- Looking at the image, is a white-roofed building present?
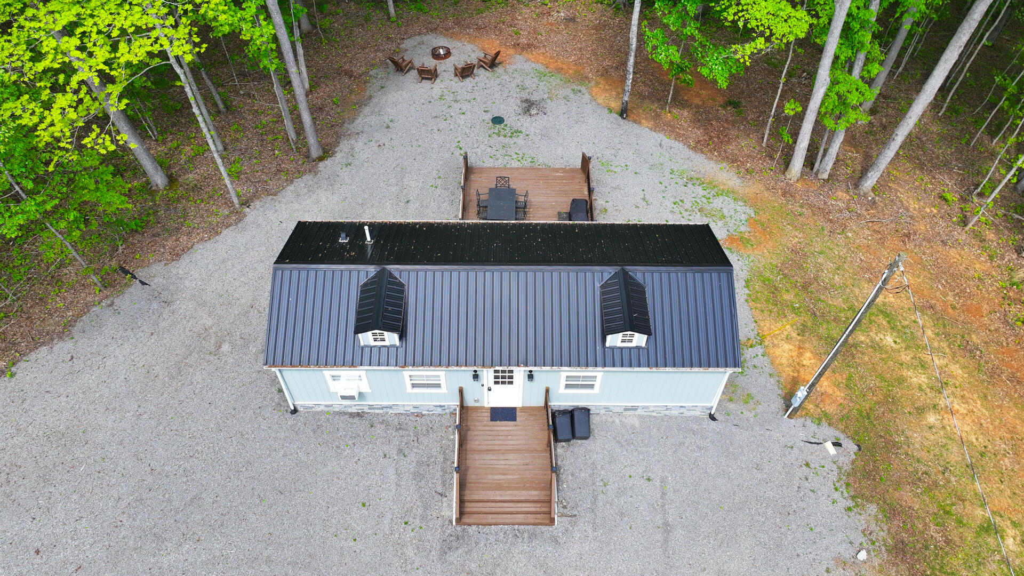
No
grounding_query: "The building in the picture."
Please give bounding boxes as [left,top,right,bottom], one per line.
[263,219,742,421]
